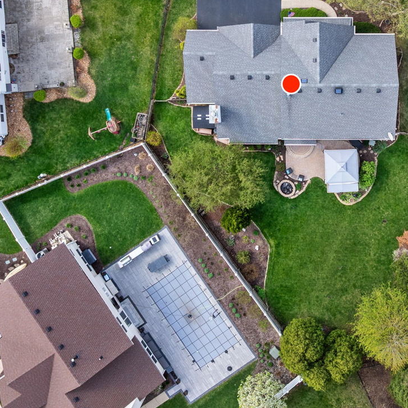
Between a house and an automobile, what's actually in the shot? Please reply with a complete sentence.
I can see a house in this picture.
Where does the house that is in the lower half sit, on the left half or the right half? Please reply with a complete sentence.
The house that is in the lower half appears in the left half of the scene.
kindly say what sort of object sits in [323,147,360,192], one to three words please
gazebo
